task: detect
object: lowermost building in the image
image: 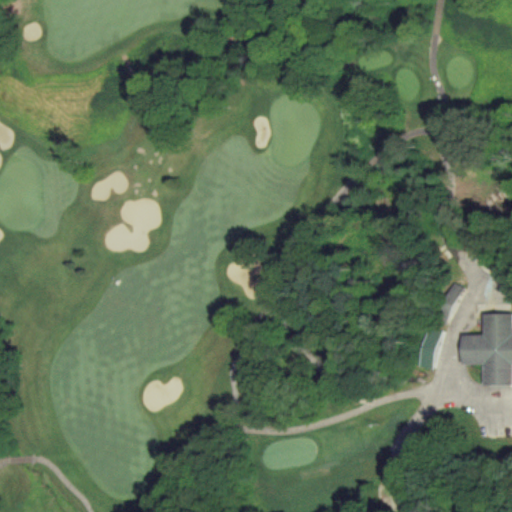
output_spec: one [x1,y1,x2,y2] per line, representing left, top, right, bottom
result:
[459,312,512,386]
